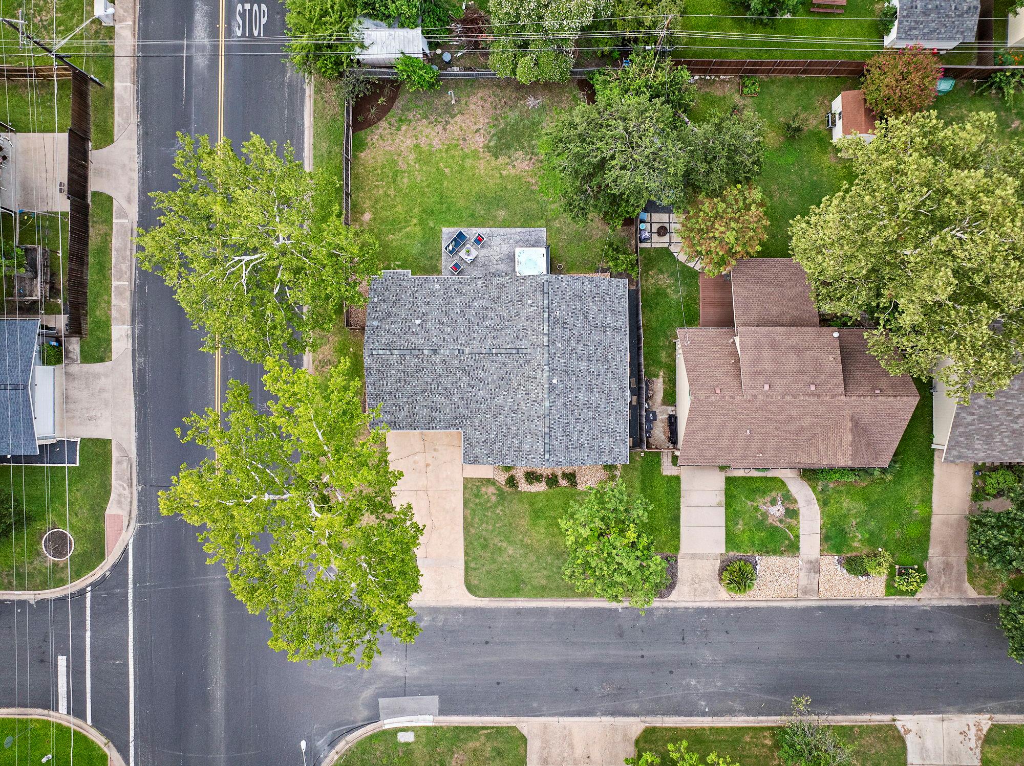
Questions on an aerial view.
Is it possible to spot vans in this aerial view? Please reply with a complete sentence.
No, I can see no van in this picture.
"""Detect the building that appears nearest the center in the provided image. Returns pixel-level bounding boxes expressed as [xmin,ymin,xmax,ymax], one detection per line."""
[365,269,633,467]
